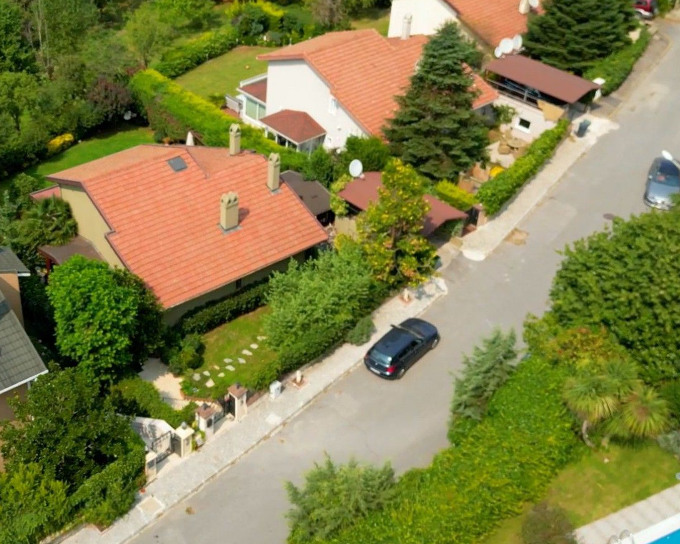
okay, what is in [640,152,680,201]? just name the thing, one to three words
car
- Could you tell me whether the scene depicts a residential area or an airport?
residential area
